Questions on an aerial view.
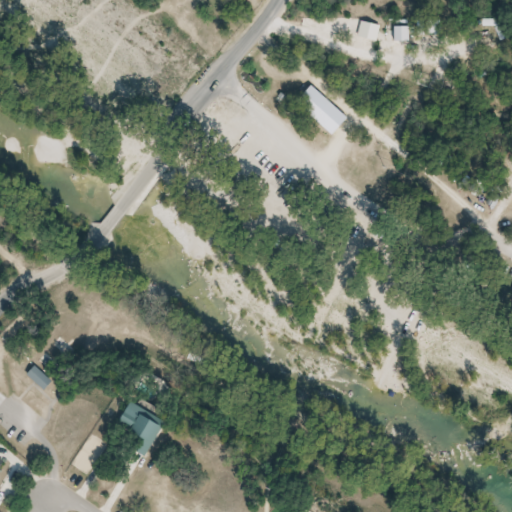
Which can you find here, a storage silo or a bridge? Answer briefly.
bridge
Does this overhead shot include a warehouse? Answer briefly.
No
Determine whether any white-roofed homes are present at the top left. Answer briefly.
No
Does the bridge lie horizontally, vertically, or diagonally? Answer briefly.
diagonally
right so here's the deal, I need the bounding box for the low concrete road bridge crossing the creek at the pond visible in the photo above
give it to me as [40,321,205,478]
[88,176,162,247]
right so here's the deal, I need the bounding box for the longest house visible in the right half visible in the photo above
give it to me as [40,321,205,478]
[304,86,347,134]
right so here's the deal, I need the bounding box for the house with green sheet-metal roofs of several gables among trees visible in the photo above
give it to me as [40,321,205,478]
[122,400,163,455]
